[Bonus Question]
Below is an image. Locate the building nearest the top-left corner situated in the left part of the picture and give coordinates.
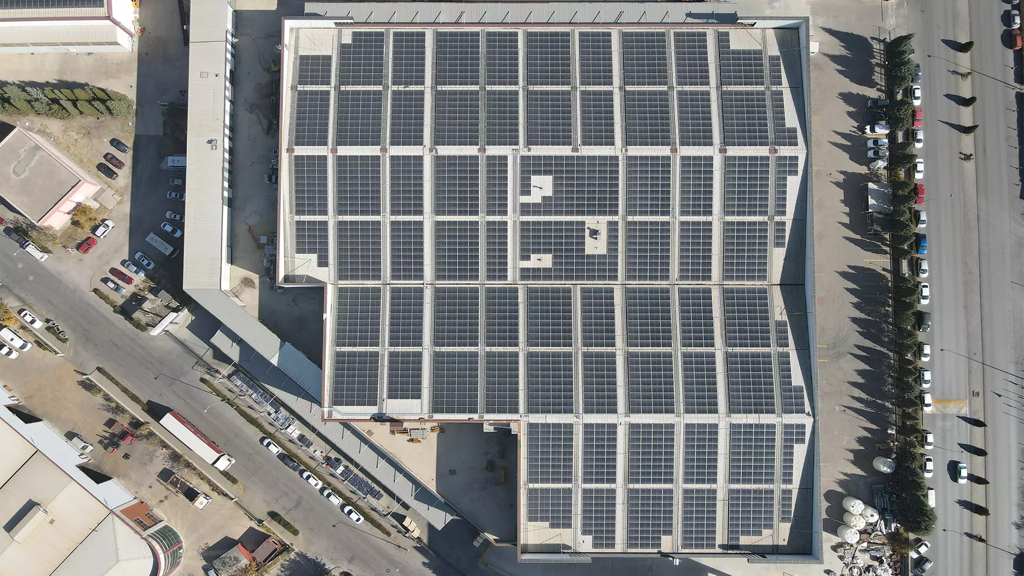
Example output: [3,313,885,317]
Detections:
[0,0,141,56]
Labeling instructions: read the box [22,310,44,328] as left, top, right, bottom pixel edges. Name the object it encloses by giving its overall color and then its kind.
white car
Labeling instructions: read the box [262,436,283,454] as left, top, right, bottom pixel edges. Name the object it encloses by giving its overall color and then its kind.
white car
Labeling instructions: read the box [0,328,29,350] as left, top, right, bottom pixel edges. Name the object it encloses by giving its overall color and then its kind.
white vehicle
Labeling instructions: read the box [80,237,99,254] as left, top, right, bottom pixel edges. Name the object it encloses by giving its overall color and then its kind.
red car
